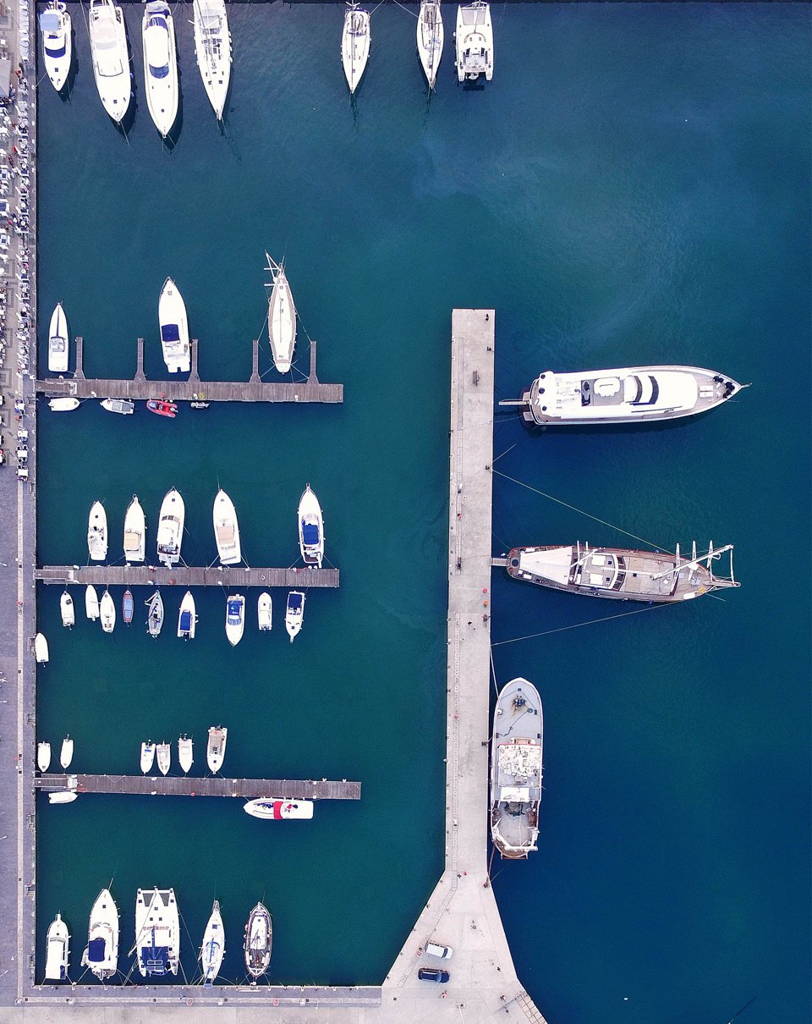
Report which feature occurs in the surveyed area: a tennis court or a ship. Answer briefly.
ship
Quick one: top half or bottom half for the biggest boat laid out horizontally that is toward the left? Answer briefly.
bottom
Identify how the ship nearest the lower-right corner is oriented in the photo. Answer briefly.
vertically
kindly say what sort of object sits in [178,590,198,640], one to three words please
boat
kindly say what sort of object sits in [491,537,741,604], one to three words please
vessel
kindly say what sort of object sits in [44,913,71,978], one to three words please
boat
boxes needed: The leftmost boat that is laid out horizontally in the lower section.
[46,792,78,805]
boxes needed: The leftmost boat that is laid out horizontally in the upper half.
[47,397,80,411]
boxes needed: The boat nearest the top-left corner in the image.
[40,0,74,92]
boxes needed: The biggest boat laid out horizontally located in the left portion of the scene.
[243,797,315,819]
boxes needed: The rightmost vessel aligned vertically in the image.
[489,678,546,860]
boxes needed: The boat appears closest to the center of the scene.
[297,484,326,568]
